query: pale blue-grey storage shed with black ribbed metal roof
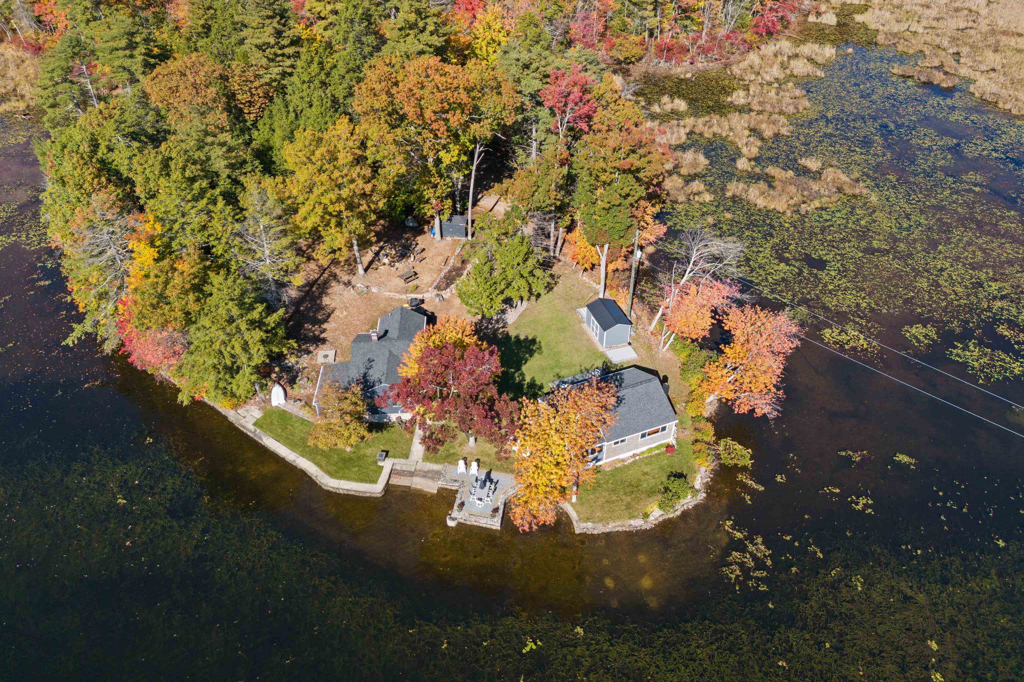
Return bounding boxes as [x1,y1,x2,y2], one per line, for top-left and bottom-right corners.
[583,298,632,348]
